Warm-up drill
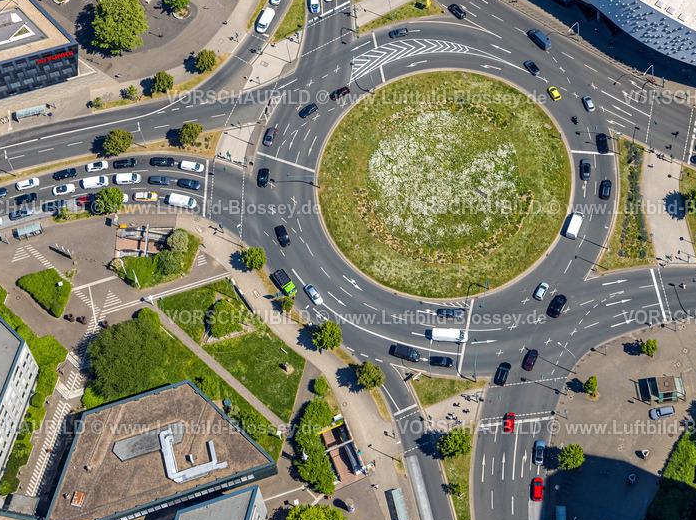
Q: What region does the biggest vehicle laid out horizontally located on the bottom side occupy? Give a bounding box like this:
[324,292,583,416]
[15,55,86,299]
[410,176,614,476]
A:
[432,326,468,344]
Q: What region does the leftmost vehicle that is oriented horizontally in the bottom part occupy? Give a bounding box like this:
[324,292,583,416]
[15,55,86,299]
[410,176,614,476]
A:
[391,344,421,361]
